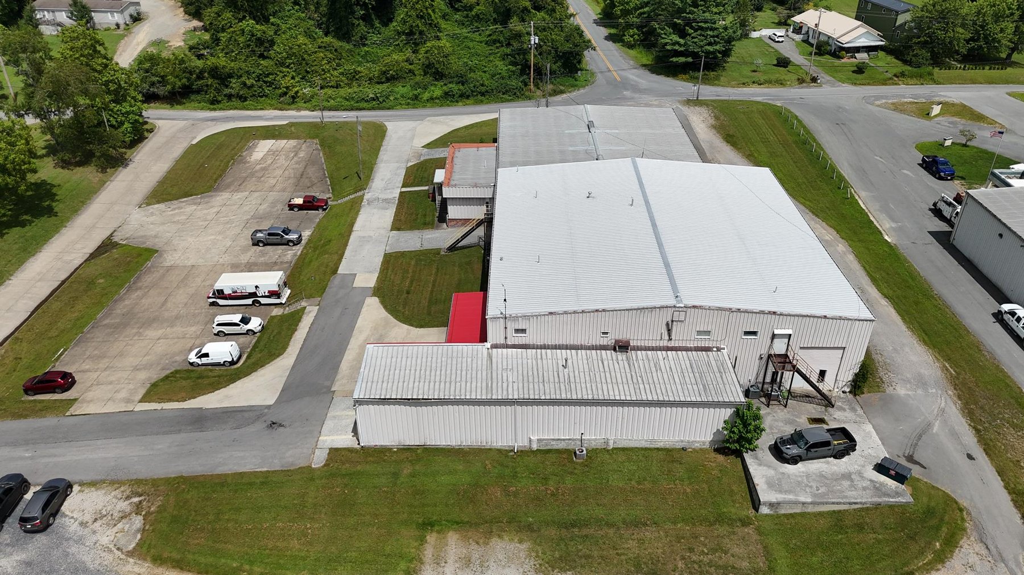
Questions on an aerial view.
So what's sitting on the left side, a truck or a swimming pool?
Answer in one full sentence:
It is a truck that can be seen on the left side.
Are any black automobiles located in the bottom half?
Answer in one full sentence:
Yes, a black automobile shows up in the bottom half.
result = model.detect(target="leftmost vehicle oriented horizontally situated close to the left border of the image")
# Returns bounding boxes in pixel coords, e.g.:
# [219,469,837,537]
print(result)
[15,366,80,393]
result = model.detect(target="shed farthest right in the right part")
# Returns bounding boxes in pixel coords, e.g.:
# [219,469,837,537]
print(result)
[951,183,1024,304]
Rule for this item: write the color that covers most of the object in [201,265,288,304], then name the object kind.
white truck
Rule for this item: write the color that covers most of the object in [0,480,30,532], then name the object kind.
black car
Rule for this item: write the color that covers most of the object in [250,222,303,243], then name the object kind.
gray truck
